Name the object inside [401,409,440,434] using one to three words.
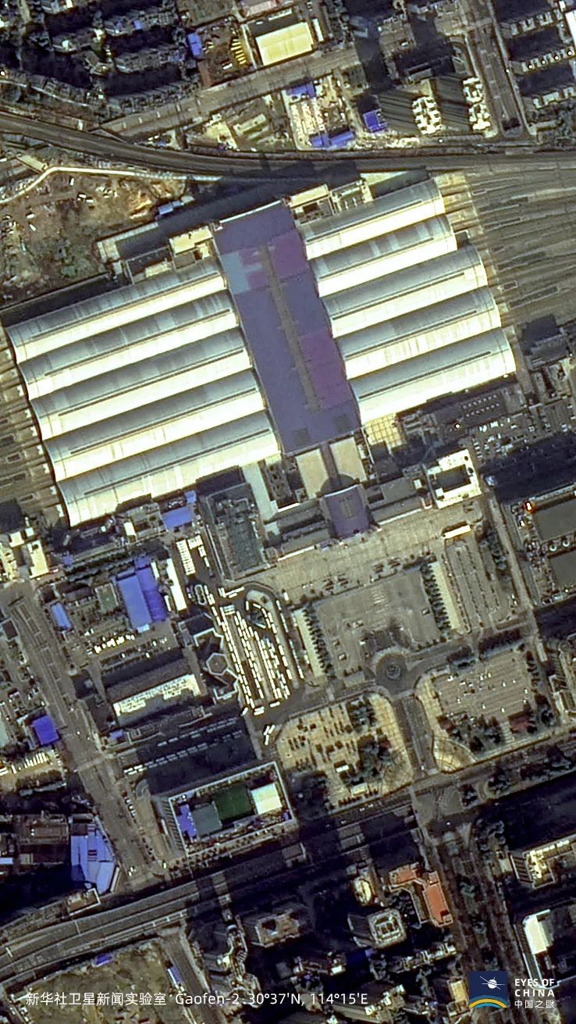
house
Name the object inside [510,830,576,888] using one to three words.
building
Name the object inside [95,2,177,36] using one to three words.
building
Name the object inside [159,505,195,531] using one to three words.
shed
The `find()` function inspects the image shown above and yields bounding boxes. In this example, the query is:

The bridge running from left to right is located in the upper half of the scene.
[0,113,576,170]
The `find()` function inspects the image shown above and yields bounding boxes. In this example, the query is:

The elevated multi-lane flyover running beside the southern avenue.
[0,803,415,978]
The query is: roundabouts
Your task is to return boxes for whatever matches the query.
[373,645,408,685]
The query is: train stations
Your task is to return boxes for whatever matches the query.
[0,166,568,559]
